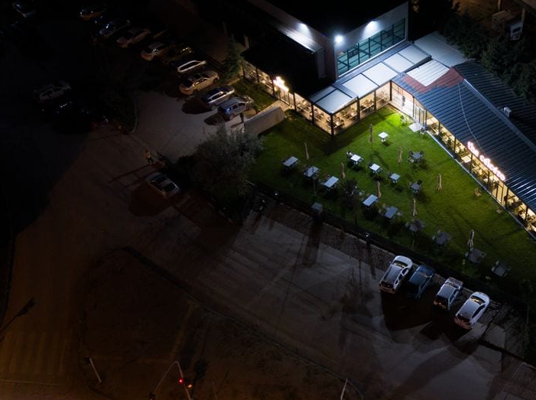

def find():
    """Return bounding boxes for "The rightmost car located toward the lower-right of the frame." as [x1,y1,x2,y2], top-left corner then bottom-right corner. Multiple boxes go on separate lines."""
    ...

[452,290,491,330]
